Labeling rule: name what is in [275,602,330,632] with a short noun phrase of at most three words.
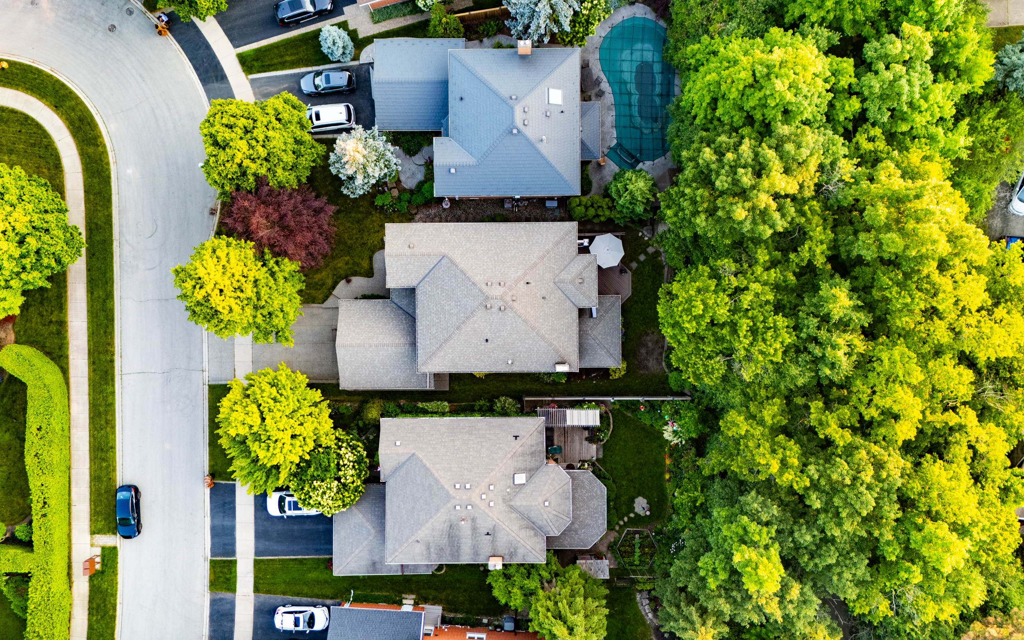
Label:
car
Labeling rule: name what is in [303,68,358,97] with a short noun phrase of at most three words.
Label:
car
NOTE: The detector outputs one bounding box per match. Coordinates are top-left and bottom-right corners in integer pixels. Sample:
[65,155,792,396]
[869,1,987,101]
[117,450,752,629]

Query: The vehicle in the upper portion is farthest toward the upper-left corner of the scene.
[274,0,336,28]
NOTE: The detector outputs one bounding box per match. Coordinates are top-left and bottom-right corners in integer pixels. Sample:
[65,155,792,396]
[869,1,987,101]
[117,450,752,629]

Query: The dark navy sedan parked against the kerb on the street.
[115,483,145,536]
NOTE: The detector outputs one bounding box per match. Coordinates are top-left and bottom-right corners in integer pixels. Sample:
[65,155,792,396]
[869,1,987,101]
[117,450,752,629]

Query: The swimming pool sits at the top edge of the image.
[596,12,679,172]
